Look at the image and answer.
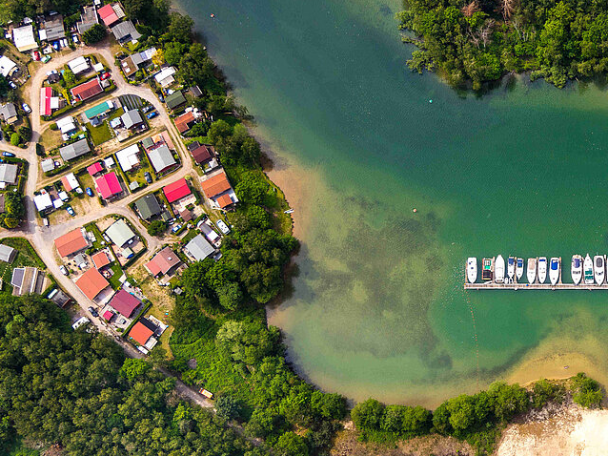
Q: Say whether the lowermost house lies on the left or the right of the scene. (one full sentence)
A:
The lowermost house is on the left side of the image.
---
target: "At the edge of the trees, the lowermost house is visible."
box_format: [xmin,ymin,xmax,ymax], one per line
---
[129,316,160,345]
